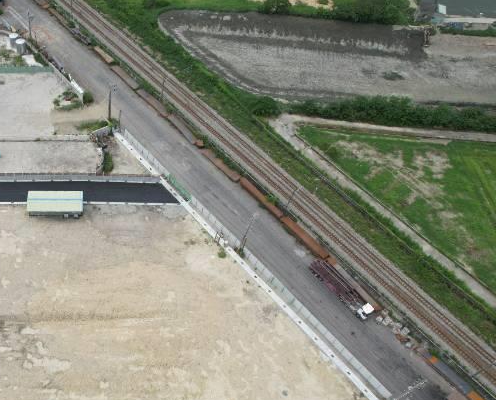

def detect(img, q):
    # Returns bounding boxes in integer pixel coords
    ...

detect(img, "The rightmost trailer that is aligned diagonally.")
[416,347,475,398]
